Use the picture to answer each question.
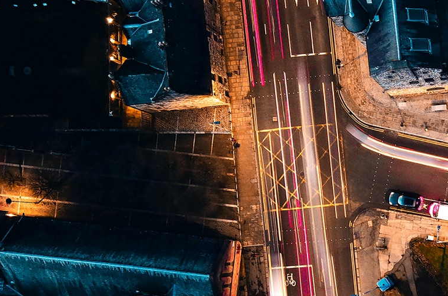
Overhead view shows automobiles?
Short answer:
Yes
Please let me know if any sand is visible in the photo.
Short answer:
No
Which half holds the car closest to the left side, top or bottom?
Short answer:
top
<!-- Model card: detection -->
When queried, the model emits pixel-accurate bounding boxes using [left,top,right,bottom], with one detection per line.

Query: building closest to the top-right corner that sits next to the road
[323,0,448,95]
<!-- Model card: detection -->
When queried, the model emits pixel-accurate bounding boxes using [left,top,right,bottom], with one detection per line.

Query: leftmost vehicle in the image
[245,47,265,83]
